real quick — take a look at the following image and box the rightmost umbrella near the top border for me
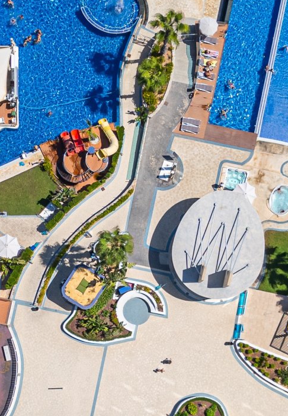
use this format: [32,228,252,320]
[199,17,217,36]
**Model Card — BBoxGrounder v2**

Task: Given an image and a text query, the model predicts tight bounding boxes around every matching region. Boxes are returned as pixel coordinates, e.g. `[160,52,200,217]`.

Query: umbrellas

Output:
[0,234,20,260]
[199,17,217,36]
[235,181,256,201]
